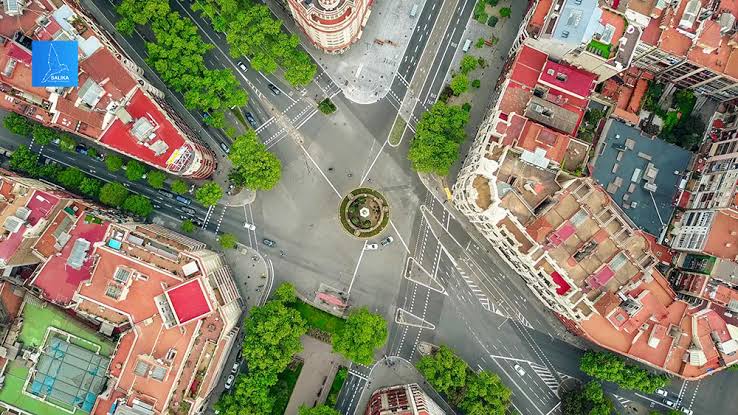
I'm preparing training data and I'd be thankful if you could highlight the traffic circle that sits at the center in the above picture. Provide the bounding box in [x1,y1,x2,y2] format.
[339,187,390,238]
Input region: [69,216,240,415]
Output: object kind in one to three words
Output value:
building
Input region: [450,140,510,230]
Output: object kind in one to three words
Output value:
building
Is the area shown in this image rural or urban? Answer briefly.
urban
